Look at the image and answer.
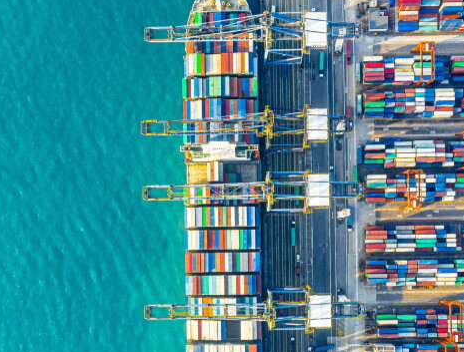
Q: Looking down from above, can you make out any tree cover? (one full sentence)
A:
No, the picture contains no tree cover.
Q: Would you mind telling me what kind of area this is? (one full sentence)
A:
The picture captures a port.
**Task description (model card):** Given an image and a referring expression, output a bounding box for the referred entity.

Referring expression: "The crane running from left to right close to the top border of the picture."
[142,11,359,80]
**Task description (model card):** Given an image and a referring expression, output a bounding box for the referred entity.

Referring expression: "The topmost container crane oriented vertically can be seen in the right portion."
[413,41,436,88]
